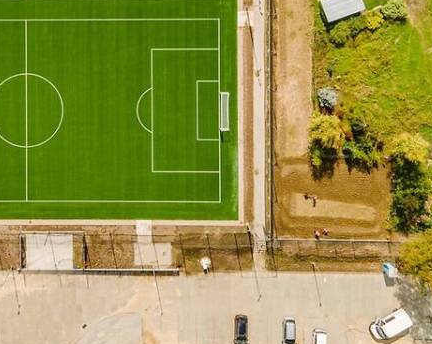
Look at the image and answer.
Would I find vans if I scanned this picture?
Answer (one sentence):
Yes, the picture does show a van.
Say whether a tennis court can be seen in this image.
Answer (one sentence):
No, the scene contains no tennis court.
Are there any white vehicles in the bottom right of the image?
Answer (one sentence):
Yes, the scene does show a white vehicle in the bottom right of the image.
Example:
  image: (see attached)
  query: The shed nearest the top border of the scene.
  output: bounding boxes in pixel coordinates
[318,0,365,23]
